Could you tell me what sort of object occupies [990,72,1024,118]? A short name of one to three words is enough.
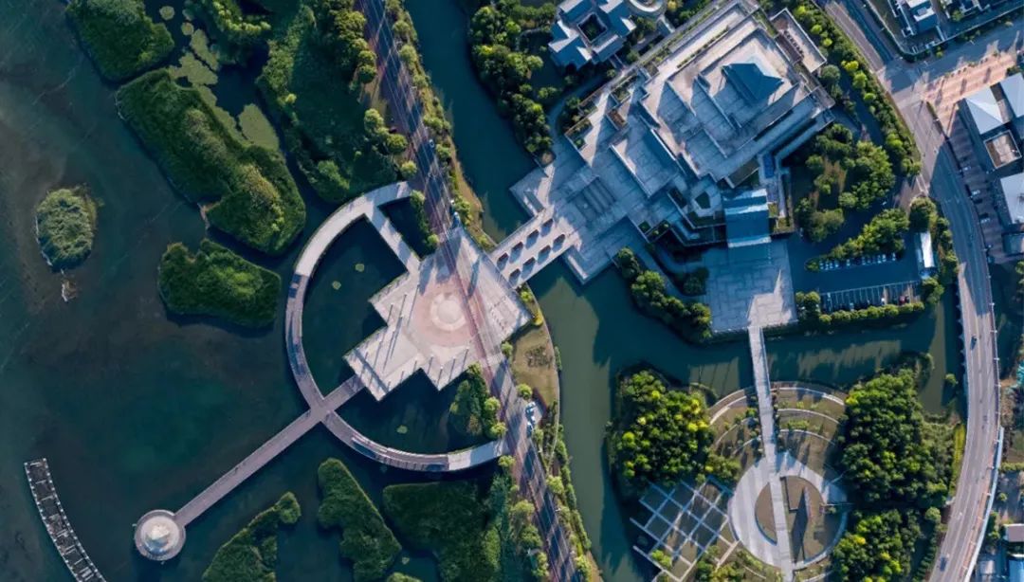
building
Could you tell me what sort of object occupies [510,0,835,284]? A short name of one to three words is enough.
building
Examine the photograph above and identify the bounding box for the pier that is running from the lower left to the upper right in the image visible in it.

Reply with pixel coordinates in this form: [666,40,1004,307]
[172,375,366,527]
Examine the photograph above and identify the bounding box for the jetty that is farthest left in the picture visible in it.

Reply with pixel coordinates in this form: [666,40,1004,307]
[24,459,105,582]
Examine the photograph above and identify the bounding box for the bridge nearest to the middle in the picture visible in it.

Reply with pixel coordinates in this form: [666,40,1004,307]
[490,215,572,289]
